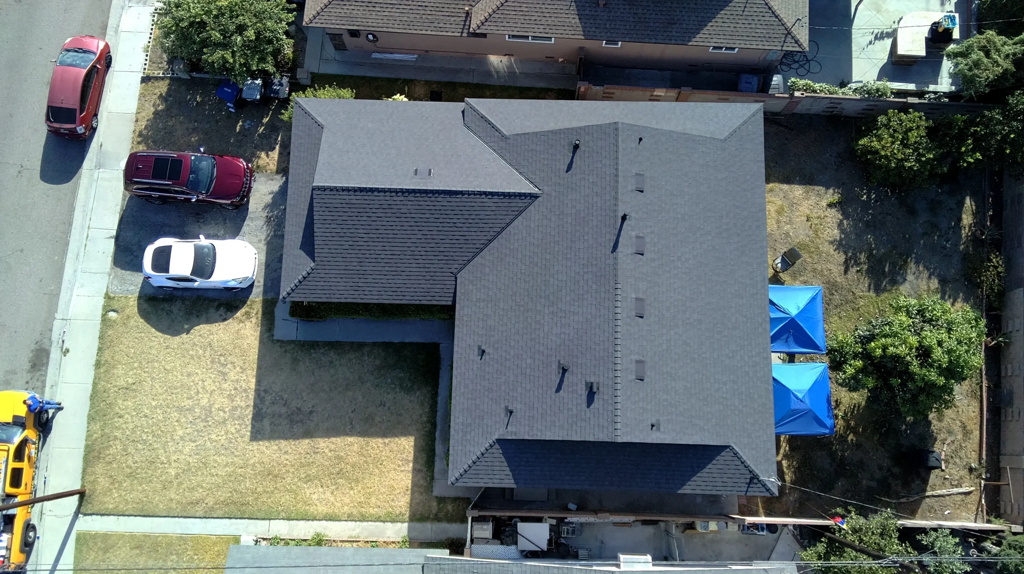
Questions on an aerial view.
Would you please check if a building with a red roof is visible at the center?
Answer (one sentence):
No, I see no building with a red roof at the center.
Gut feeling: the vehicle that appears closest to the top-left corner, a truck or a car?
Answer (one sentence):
I'd identify the vehicle that appears closest to the top-left corner as a car.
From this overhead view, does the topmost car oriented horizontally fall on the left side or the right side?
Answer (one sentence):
You can find the topmost car oriented horizontally on the left side of the picture.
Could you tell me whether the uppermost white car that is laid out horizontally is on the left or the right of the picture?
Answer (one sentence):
The uppermost white car that is laid out horizontally is on the left side of the image.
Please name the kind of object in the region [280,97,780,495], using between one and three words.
house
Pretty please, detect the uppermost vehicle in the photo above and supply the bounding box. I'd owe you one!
[42,36,110,141]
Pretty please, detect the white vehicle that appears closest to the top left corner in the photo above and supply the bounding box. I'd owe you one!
[142,234,260,292]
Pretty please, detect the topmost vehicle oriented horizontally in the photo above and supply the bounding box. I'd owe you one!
[121,147,256,210]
